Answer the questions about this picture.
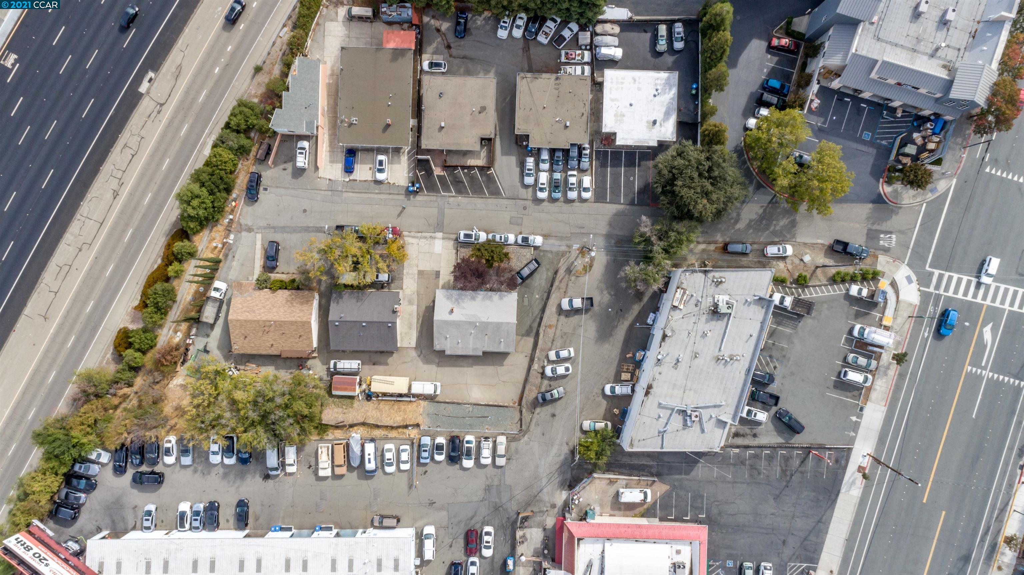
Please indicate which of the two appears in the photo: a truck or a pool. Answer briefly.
truck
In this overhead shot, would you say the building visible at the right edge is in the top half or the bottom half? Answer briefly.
top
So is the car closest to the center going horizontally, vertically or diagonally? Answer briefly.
diagonally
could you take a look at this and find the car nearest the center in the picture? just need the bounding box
[515,256,543,286]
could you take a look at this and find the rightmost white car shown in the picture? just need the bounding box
[979,255,1001,285]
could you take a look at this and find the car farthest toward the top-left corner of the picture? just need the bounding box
[118,4,141,29]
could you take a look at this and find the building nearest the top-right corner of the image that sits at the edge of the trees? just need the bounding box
[807,0,1020,124]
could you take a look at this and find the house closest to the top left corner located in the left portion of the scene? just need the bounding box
[269,57,325,136]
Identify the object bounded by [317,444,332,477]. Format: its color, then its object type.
white vehicle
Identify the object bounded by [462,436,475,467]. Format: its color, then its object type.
white vehicle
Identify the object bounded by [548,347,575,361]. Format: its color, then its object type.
white car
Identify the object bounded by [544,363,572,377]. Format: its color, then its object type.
white car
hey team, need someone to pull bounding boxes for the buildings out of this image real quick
[269,57,325,136]
[420,75,496,153]
[72,525,421,575]
[546,516,710,575]
[601,69,678,149]
[515,73,590,151]
[620,269,776,452]
[433,289,518,356]
[328,290,403,351]
[332,375,361,395]
[807,0,1020,124]
[337,46,415,150]
[227,282,318,358]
